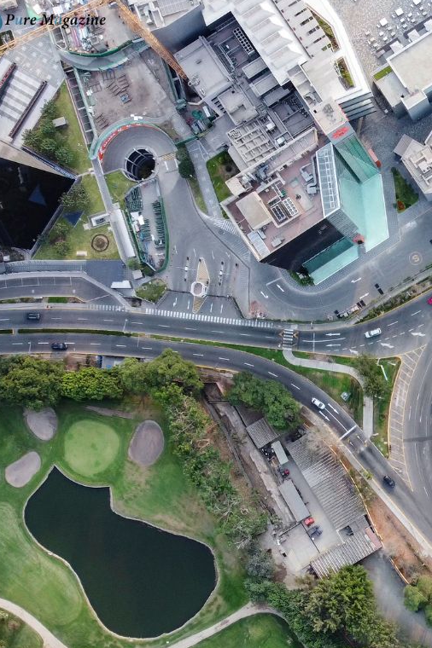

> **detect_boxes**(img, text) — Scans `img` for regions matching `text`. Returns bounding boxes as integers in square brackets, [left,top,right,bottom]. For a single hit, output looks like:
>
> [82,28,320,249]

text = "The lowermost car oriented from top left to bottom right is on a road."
[382,474,396,488]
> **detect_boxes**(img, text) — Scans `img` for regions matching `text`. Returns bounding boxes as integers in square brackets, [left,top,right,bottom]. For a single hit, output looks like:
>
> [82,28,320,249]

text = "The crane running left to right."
[0,0,183,55]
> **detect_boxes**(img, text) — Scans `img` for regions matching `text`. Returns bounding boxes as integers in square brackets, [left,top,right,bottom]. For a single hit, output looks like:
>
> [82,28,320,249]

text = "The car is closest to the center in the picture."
[310,397,325,411]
